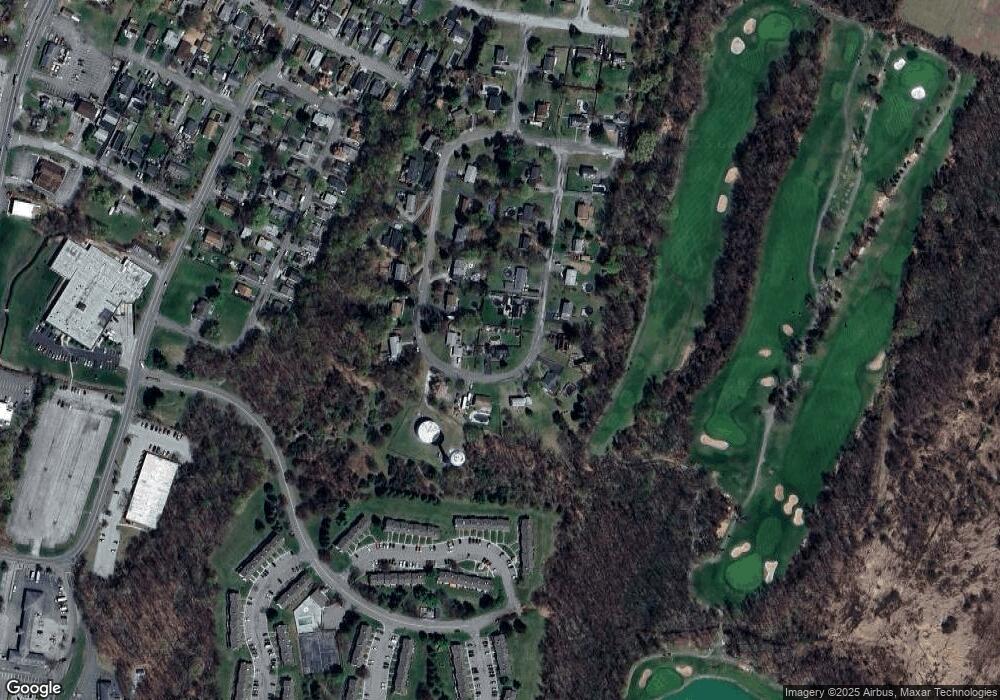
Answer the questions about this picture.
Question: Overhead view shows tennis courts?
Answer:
Yes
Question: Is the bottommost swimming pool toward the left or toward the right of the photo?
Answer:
left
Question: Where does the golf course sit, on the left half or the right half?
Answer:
right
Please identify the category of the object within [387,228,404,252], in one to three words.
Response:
house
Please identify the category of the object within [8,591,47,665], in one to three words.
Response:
building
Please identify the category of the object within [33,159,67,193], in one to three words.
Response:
building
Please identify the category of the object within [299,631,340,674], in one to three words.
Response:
tennis court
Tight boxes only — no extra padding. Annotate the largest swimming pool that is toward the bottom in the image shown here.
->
[294,597,322,633]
